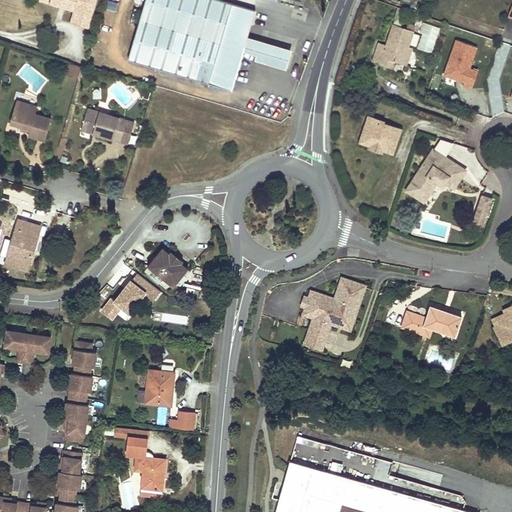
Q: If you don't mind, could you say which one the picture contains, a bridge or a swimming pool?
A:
swimming pool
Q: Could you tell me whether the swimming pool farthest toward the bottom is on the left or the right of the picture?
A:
left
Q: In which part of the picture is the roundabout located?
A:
center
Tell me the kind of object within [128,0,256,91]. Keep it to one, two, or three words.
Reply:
building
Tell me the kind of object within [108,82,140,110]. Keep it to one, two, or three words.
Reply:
swimming pool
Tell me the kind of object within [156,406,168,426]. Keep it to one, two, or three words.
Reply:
swimming pool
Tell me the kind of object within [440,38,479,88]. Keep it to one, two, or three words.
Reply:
house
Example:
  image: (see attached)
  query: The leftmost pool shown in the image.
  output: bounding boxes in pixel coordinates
[16,62,48,95]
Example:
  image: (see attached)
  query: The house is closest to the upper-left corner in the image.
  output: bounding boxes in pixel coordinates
[42,0,100,30]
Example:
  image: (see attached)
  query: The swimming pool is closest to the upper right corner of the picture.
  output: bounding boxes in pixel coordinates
[412,212,452,243]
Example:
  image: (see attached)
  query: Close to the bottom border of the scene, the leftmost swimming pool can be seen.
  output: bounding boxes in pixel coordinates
[120,479,140,512]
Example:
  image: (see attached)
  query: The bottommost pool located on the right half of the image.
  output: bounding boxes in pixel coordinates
[424,345,460,373]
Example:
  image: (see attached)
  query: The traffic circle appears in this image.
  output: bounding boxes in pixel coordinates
[224,156,338,272]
